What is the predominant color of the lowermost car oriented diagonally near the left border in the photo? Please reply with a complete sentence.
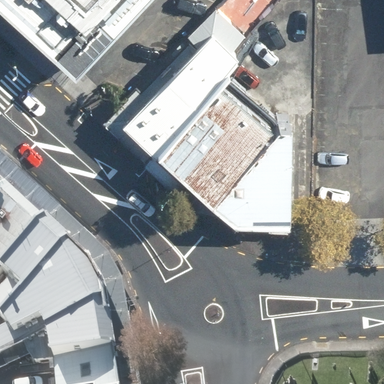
The lowermost car oriented diagonally near the left border looks red in the image.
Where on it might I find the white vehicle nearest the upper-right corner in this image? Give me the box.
[252,41,280,68]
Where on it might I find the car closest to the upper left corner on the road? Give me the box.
[18,89,48,117]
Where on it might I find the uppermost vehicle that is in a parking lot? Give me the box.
[174,0,210,18]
